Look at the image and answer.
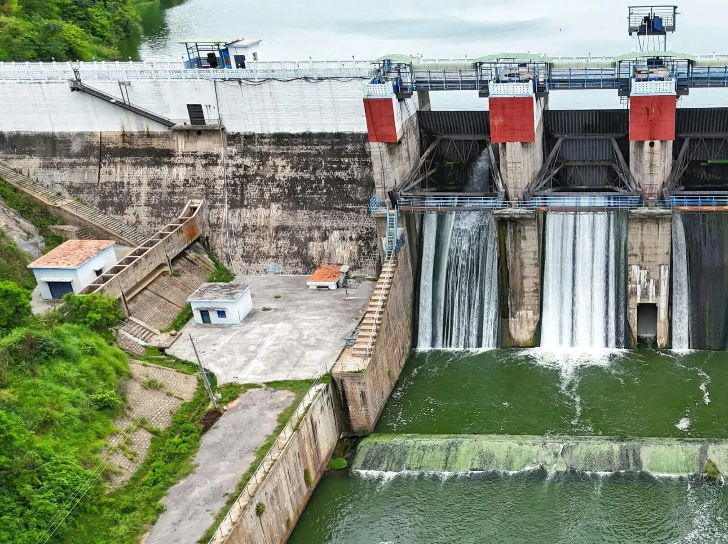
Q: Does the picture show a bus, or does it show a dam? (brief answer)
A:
dam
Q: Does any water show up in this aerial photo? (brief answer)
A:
Yes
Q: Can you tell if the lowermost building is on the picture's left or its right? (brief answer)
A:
left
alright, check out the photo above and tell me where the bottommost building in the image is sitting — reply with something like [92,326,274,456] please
[185,284,253,325]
